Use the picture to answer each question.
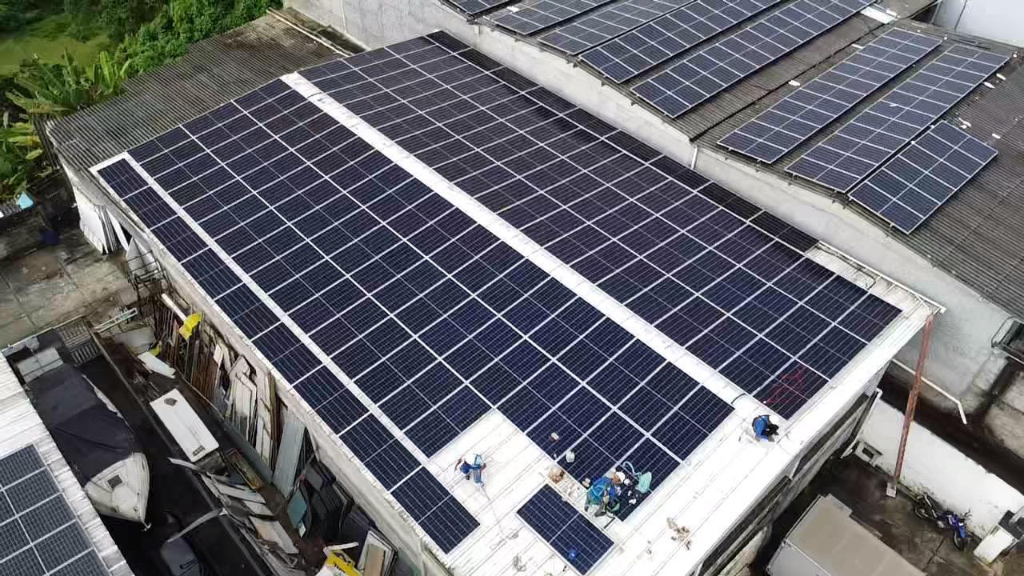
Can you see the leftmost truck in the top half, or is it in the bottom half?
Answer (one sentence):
The bottom half of the photo is where the leftmost truck is.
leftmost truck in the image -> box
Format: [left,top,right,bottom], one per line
[766,491,935,576]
